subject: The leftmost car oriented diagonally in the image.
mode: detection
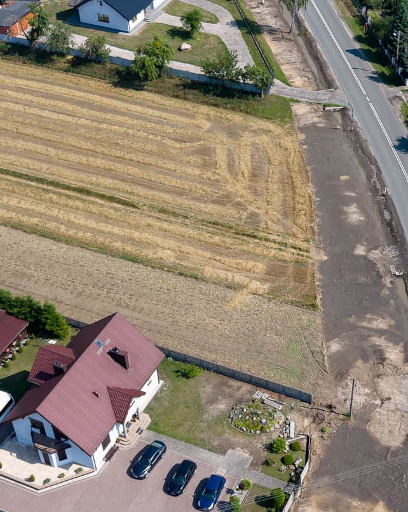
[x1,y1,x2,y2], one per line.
[128,436,169,481]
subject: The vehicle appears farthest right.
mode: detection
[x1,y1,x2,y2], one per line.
[194,469,228,512]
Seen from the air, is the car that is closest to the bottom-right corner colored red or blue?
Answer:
blue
